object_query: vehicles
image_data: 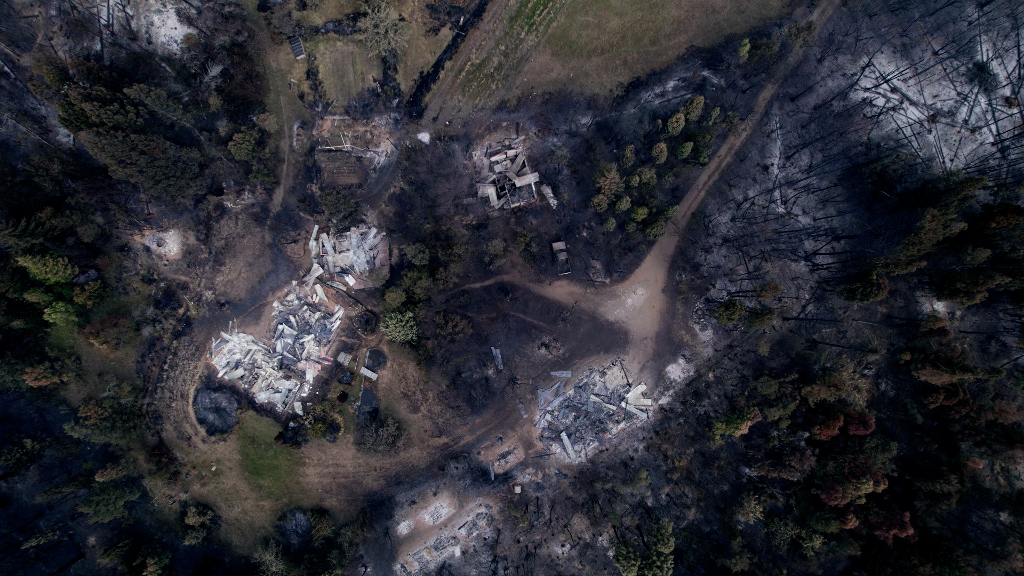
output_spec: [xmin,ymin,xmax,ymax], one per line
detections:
[552,241,569,275]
